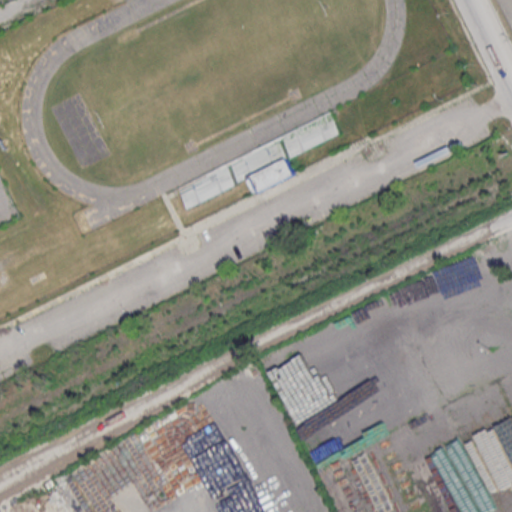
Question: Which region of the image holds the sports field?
top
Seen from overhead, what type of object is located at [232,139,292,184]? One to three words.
building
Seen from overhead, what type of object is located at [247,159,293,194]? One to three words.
building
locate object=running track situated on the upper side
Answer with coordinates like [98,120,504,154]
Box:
[20,0,406,230]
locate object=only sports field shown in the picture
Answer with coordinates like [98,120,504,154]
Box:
[42,0,384,186]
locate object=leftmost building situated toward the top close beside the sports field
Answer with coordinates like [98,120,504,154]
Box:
[179,164,240,208]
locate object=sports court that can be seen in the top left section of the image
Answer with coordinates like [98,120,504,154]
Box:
[52,94,110,168]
